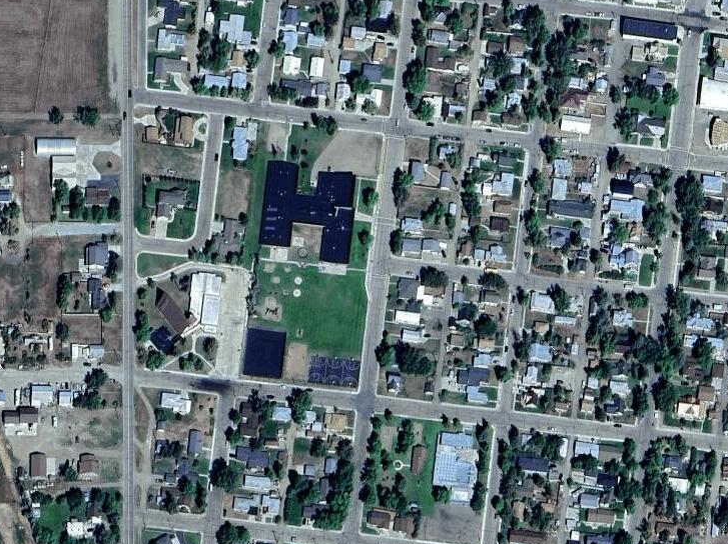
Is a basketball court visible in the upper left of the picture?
No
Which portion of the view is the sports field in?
center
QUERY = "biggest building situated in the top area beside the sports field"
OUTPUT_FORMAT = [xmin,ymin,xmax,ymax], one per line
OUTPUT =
[259,161,356,267]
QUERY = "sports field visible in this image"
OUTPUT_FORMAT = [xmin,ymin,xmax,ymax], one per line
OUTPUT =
[248,262,370,356]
